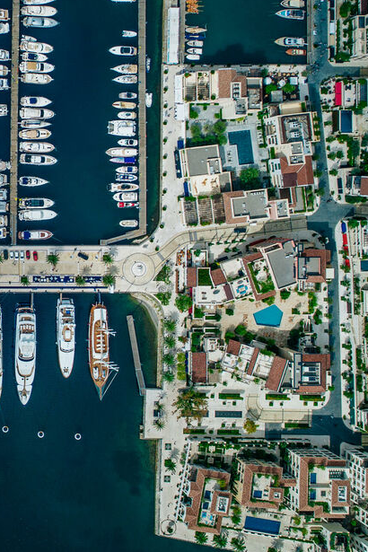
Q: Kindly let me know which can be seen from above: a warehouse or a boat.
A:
boat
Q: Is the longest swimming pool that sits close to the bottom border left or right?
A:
right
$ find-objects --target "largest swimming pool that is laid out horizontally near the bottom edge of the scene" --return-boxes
[243,514,282,536]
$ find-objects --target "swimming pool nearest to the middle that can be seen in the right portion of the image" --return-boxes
[252,304,285,328]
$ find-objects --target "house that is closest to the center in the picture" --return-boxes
[182,249,253,304]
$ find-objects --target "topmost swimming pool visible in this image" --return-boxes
[340,109,353,134]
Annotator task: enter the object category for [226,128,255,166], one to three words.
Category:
swimming pool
